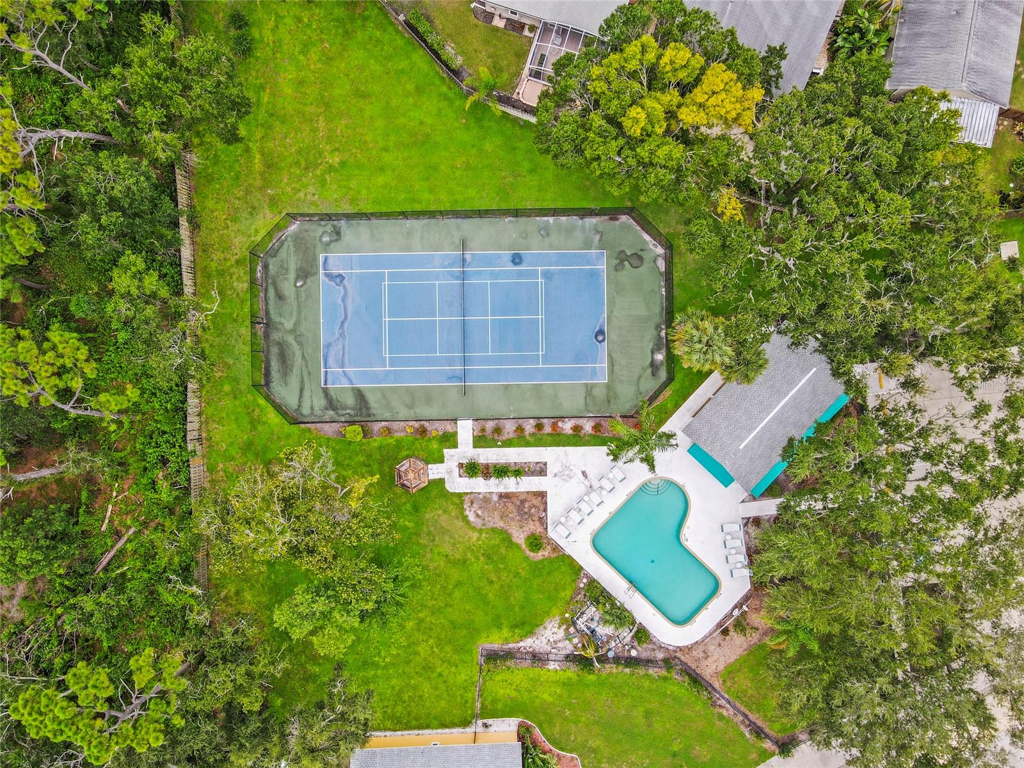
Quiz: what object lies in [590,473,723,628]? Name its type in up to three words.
swimming pool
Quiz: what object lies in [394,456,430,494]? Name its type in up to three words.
gazebo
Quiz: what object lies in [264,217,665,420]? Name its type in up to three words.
tennis court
